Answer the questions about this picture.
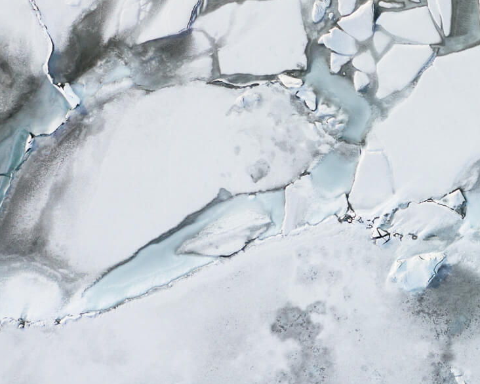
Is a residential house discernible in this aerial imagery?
No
